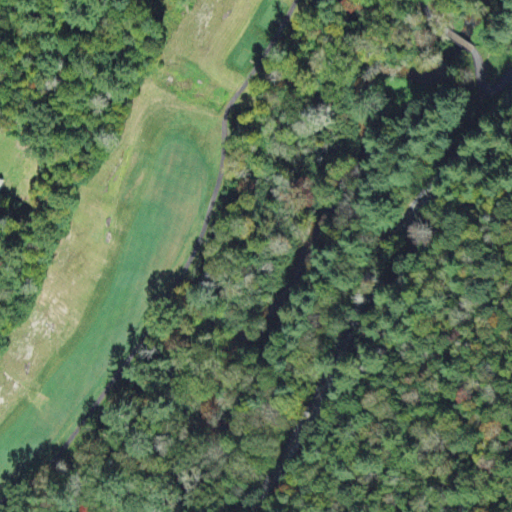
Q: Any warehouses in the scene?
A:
No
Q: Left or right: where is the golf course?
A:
left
